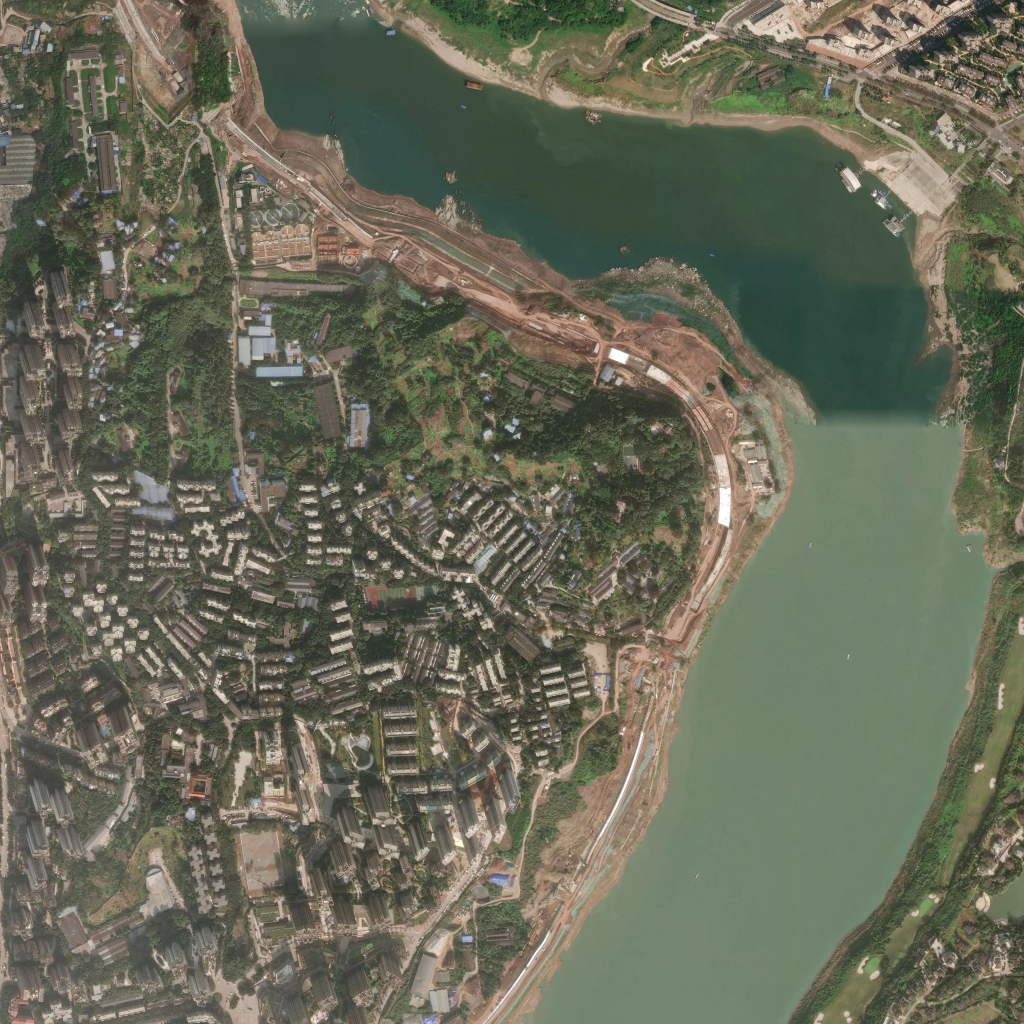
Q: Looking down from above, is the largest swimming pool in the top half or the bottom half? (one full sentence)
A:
The bottom half of the photo is where the largest swimming pool is.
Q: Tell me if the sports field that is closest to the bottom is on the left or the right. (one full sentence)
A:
The sports field that is closest to the bottom is on the left side of the image.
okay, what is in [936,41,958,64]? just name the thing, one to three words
building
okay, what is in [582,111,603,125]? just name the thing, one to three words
ship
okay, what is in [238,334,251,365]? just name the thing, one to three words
shed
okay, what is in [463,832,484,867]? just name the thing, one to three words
building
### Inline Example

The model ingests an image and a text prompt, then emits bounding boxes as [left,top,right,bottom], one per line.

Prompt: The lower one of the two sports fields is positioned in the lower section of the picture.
[235,827,295,902]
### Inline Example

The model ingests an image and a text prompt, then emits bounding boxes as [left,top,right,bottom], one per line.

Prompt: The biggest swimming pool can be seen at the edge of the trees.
[349,735,373,768]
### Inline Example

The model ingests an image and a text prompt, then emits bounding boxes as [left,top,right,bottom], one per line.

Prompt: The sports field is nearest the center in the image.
[366,585,438,608]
